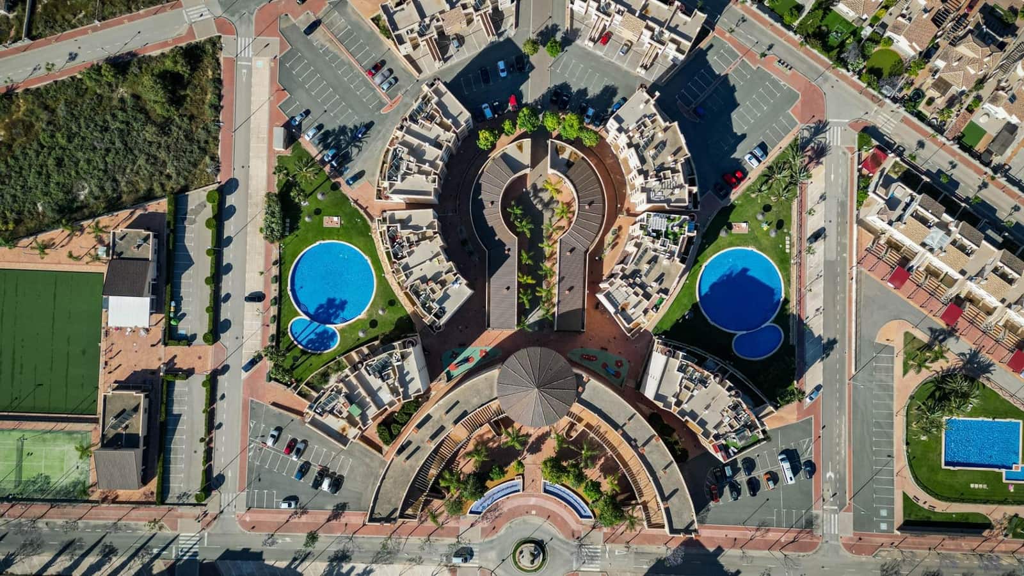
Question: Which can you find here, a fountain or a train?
fountain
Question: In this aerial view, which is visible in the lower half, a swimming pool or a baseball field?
swimming pool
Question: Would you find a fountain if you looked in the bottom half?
Yes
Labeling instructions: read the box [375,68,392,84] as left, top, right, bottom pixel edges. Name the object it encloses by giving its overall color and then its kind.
gray car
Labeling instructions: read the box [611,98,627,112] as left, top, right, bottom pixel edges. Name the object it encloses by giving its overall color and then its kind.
blue car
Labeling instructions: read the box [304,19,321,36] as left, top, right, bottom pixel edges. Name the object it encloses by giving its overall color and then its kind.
black car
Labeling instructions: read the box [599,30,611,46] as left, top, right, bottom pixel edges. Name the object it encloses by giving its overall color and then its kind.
red vehicle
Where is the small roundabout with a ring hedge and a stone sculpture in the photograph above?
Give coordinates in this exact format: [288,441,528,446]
[490,518,570,576]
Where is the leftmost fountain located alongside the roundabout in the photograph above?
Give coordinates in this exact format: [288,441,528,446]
[468,481,522,515]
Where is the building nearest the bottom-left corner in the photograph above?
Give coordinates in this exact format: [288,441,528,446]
[93,389,153,489]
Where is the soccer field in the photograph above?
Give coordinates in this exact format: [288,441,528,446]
[0,269,104,417]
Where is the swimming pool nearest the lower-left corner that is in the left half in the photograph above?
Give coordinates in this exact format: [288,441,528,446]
[287,317,339,354]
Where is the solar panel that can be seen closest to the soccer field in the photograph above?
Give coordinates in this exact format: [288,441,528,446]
[110,411,138,438]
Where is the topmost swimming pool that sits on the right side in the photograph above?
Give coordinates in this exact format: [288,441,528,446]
[696,246,785,333]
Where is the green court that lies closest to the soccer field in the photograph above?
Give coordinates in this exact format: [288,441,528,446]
[0,430,91,500]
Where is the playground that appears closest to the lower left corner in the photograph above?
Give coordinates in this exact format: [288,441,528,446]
[439,346,502,382]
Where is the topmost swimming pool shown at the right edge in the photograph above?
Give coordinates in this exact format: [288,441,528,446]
[943,418,1024,471]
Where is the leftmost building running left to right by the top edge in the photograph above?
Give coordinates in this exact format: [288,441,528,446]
[379,0,514,63]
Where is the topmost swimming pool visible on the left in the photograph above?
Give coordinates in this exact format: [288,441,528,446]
[287,240,376,327]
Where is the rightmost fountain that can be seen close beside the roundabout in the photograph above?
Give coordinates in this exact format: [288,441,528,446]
[542,479,591,518]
